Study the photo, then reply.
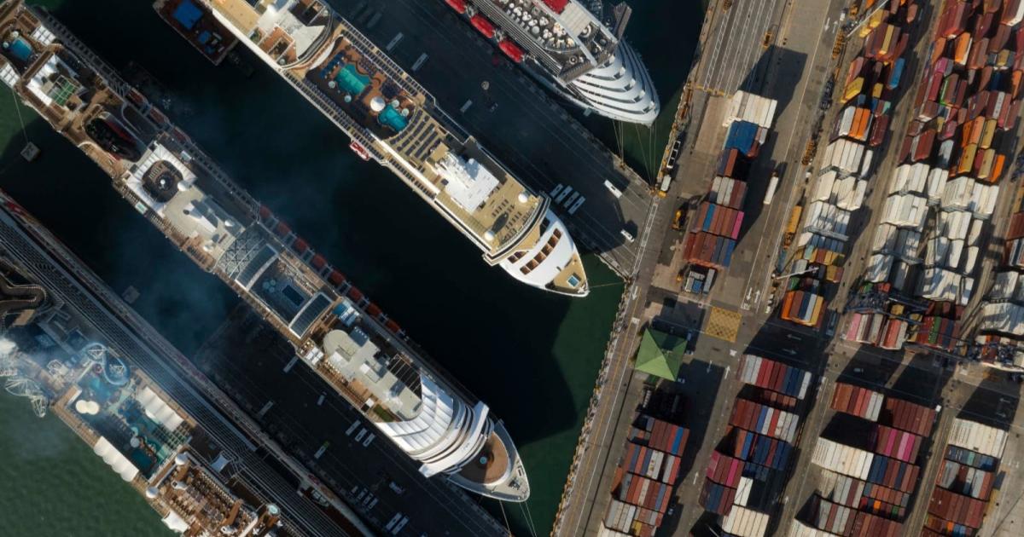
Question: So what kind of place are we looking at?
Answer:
port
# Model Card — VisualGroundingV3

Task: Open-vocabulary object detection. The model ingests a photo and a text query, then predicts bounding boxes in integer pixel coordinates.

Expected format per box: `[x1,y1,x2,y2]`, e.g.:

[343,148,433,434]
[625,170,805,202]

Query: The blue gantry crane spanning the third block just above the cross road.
[825,286,963,344]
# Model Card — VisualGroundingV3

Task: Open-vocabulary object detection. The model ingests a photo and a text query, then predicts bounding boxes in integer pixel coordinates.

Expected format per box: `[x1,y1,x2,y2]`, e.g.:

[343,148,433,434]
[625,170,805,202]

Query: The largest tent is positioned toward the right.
[633,328,688,381]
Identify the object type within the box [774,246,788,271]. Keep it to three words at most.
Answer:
vehicle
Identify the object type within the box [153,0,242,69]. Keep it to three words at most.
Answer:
ship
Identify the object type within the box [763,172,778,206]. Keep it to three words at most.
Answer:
vehicle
